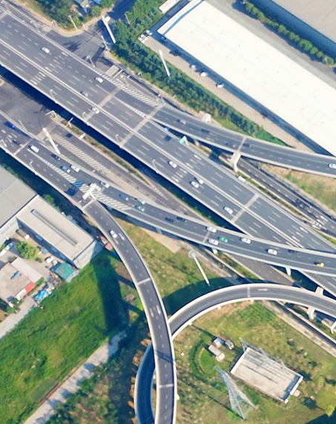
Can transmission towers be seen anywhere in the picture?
Yes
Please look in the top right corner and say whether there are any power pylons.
No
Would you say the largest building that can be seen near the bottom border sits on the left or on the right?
right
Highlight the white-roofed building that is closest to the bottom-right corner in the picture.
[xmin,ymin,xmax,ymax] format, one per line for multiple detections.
[230,347,304,405]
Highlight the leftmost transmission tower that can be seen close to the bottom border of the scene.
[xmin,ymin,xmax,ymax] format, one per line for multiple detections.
[213,364,257,423]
